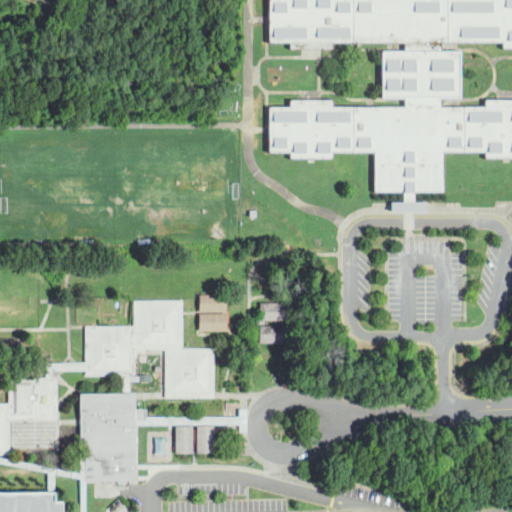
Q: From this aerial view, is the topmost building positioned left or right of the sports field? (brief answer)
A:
on the right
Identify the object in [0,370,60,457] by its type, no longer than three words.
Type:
building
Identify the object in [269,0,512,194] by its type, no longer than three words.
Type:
building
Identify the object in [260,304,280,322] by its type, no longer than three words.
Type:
house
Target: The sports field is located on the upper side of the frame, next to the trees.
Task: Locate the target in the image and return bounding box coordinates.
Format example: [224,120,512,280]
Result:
[0,130,238,241]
